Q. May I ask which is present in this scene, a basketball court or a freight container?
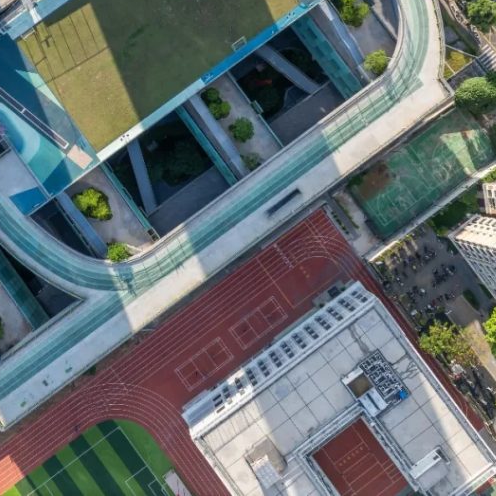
basketball court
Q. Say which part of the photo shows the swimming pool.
top left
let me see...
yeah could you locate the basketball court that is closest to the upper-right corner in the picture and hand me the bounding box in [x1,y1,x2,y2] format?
[348,108,492,238]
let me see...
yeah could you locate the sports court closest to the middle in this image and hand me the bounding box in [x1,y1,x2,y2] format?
[229,297,288,349]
